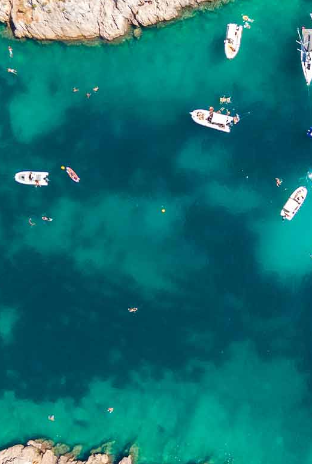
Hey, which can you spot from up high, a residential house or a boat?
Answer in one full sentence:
This aerial view contains a boat.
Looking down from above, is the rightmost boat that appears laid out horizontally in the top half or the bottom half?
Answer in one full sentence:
The rightmost boat that appears laid out horizontally is in the top half of the image.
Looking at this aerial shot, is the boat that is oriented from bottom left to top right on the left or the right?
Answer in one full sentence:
The boat that is oriented from bottom left to top right sits on the right side.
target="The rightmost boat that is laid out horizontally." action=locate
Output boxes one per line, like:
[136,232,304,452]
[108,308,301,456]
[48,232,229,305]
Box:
[185,109,234,131]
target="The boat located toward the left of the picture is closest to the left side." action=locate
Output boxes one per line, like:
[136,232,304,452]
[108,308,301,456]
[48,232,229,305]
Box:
[14,171,49,185]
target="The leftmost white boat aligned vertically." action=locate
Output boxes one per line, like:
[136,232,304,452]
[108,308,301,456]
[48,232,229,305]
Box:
[224,21,242,61]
